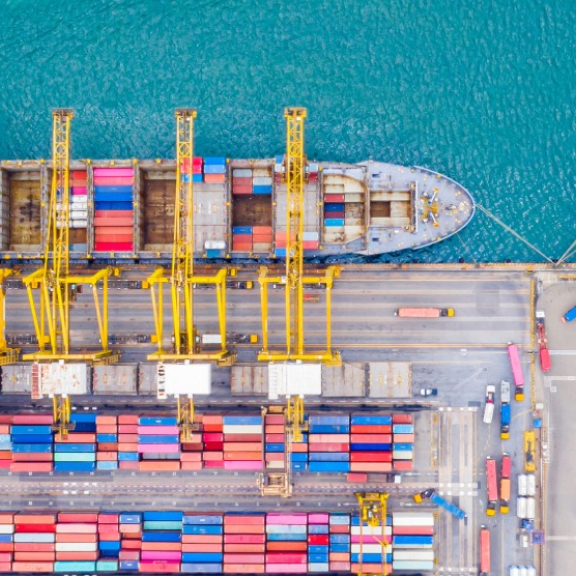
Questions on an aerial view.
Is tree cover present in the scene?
No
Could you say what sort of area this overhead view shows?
port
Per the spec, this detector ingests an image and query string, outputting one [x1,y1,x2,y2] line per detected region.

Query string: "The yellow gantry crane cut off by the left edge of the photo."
[0,268,32,366]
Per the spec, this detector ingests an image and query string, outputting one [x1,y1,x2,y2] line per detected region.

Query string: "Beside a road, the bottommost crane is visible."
[349,489,394,576]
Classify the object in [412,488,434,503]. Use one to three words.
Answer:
vehicle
